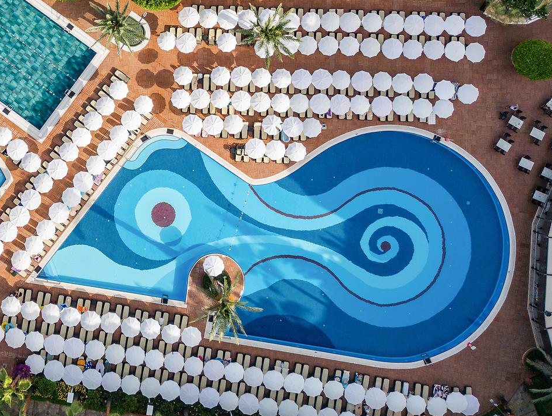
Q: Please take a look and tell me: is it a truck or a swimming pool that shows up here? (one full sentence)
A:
I can see a swimming pool in this picture.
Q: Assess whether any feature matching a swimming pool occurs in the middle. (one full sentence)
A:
Yes, you'll find a swimming pool in the middle.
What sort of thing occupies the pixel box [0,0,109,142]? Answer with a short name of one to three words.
swimming pool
